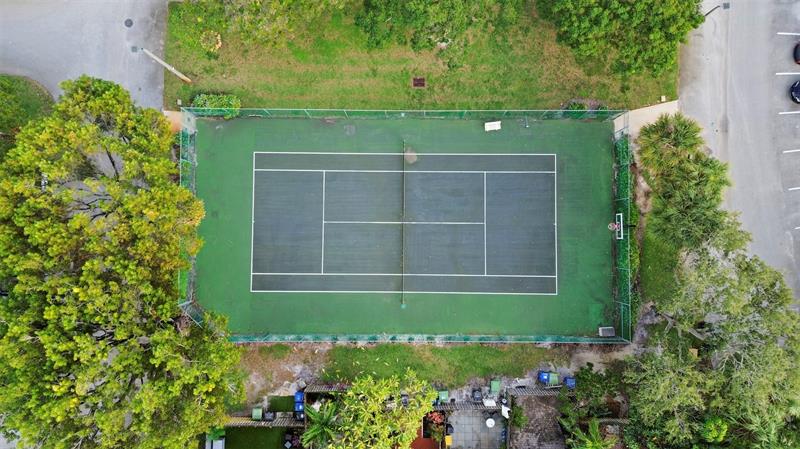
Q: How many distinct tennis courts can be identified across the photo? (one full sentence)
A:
I count just 1 tennis court.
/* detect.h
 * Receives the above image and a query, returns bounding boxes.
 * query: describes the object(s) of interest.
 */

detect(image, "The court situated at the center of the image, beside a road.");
[193,116,616,337]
